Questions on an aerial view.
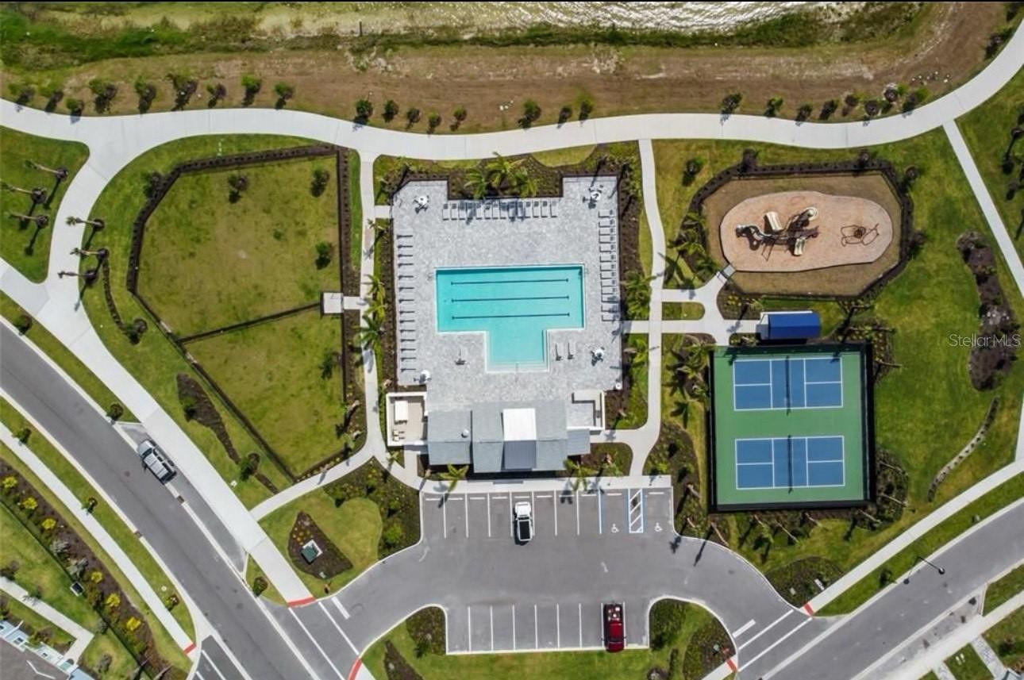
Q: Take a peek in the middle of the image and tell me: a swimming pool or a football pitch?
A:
swimming pool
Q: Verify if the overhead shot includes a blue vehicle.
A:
No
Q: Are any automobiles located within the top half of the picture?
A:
No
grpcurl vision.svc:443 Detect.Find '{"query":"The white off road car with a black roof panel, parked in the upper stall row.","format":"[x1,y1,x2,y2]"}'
[514,503,532,545]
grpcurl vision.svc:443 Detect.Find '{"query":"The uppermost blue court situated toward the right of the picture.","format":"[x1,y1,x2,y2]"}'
[733,355,844,413]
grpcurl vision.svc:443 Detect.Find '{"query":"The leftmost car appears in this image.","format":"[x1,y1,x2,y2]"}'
[137,441,176,485]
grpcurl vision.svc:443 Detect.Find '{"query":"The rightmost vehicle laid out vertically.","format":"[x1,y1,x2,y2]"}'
[604,602,624,652]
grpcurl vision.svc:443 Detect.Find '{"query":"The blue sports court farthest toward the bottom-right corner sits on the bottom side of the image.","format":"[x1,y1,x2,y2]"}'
[735,435,846,492]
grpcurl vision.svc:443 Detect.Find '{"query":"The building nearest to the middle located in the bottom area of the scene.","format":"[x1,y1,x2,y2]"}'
[387,390,605,473]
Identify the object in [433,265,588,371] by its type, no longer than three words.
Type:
swimming pool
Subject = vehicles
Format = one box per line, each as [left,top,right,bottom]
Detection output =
[514,503,532,545]
[604,602,624,652]
[137,441,176,485]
